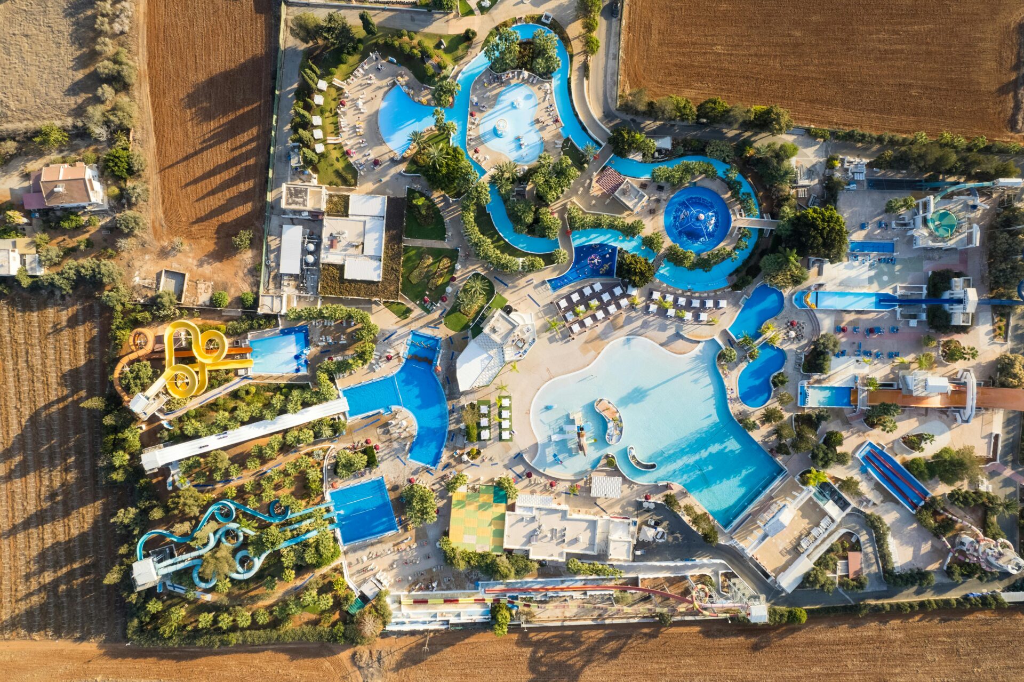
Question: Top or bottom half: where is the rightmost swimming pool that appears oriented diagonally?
bottom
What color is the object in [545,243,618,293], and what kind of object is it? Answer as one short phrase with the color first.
blue swimming pool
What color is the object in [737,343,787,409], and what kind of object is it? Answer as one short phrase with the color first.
blue swimming pool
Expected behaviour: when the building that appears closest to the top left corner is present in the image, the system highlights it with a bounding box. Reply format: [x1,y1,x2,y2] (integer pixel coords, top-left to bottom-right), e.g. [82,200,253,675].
[18,162,110,210]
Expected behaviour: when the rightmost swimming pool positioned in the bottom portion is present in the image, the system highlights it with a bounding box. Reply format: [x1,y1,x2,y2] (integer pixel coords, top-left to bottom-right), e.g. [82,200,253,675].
[858,441,932,512]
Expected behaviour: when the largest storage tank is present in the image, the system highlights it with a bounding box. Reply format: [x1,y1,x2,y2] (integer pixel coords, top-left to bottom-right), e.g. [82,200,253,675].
[159,269,192,303]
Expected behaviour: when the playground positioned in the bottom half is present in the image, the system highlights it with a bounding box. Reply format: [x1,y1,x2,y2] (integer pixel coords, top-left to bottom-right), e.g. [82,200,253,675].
[552,412,594,457]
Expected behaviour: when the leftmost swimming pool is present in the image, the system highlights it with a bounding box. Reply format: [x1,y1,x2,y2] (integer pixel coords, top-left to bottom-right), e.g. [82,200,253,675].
[250,326,309,375]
